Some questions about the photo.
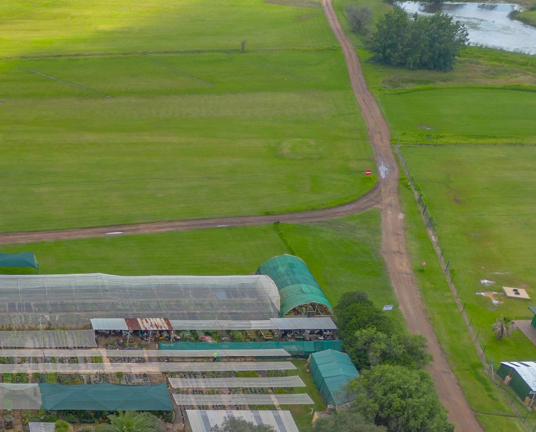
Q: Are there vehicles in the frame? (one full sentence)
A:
No, there's no vehicle here.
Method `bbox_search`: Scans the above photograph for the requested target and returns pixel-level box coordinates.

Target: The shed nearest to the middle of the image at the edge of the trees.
[267,317,337,340]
